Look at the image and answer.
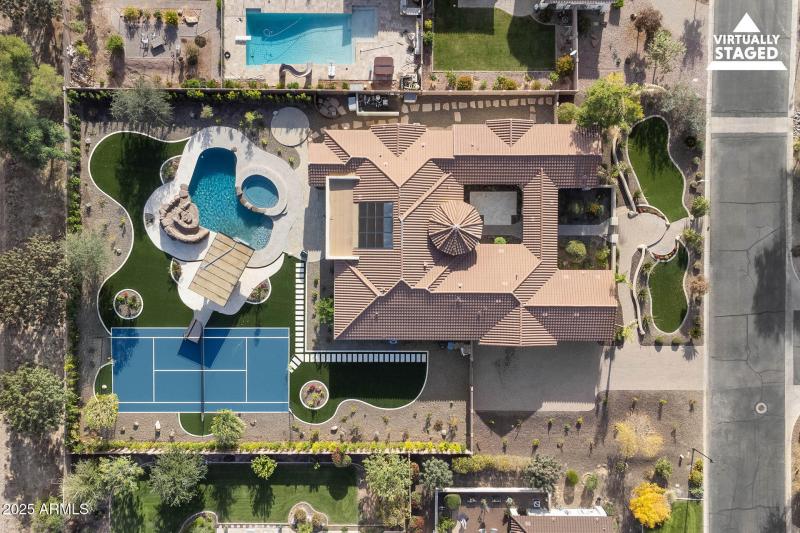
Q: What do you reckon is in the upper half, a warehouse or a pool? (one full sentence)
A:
There is a pool in the upper half.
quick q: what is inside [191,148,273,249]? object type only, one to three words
swimming pool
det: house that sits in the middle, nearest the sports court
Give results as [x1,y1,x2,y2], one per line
[309,119,619,346]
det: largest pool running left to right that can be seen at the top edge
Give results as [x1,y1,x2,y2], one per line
[245,5,379,66]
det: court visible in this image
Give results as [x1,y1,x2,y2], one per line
[112,329,289,412]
